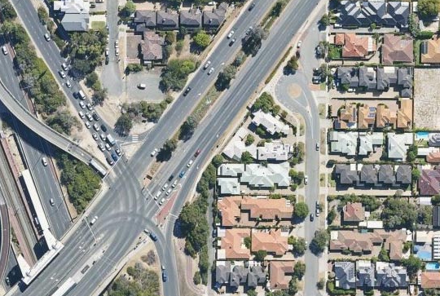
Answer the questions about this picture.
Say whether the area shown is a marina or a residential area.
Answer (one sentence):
This looks like a residential area.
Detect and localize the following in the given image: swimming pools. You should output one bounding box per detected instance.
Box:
[417,250,432,261]
[416,131,430,140]
[425,261,440,272]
